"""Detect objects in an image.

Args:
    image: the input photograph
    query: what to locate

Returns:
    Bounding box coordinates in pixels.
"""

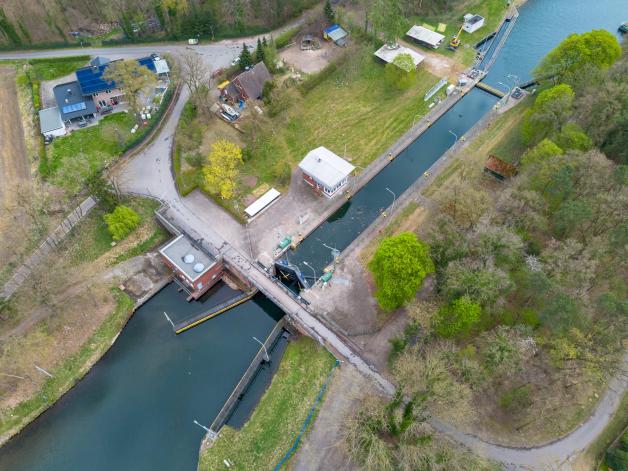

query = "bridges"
[221,248,314,335]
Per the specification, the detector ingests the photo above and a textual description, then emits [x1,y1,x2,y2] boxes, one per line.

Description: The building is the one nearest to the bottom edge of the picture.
[159,234,223,302]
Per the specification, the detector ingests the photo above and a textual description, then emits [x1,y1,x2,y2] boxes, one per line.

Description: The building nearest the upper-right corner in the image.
[448,15,484,37]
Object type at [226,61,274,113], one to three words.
house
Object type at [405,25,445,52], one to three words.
shed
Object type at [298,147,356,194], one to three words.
building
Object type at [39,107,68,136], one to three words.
building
